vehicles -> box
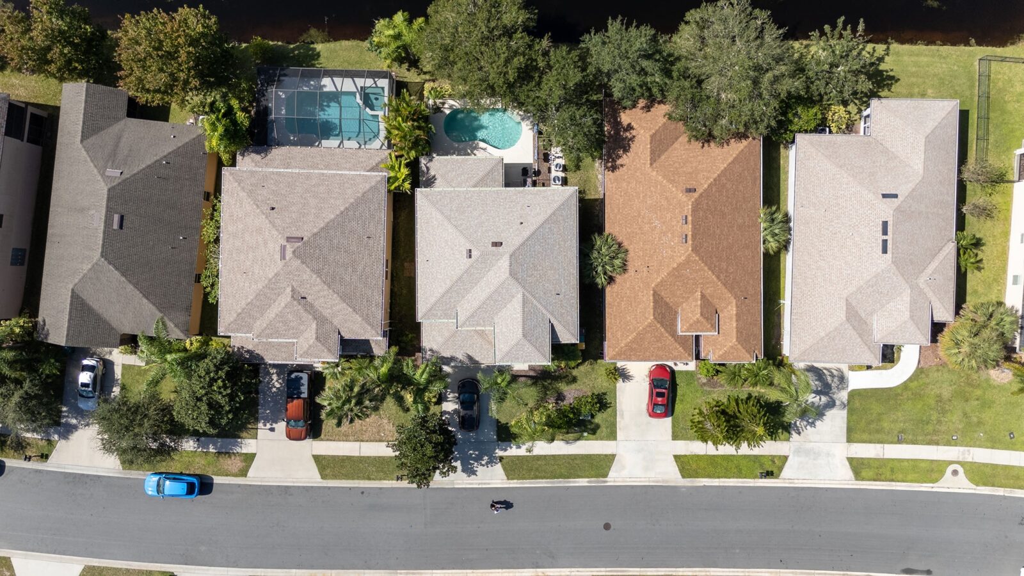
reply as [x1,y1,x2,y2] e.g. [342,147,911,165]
[145,471,200,501]
[646,364,674,419]
[455,378,483,432]
[283,370,314,438]
[75,356,110,411]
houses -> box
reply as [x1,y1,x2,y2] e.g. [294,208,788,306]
[1001,149,1024,354]
[0,93,48,318]
[217,147,393,364]
[780,97,960,365]
[38,83,214,348]
[415,155,580,366]
[603,97,764,364]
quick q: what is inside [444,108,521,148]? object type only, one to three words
swimming pool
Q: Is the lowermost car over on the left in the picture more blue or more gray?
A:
blue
